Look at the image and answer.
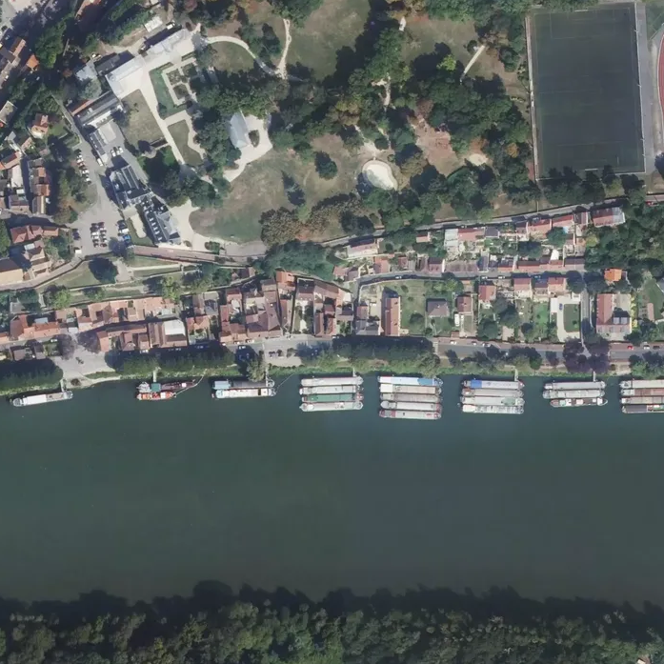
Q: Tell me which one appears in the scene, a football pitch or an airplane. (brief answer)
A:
football pitch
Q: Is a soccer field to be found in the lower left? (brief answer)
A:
No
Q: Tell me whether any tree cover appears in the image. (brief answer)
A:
Yes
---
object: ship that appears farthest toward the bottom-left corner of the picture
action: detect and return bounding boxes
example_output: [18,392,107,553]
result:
[13,391,74,406]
